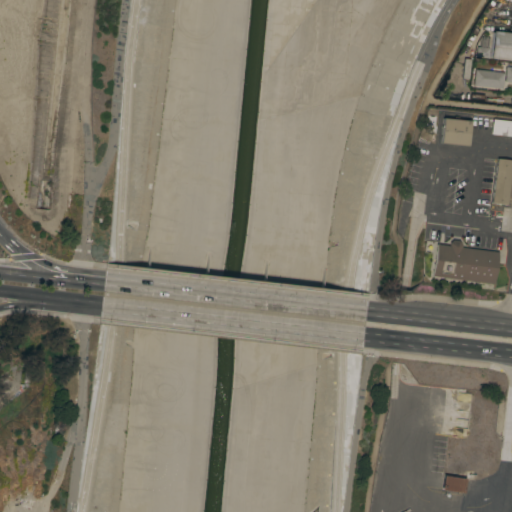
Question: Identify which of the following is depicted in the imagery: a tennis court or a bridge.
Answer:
bridge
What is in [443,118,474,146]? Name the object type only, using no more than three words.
building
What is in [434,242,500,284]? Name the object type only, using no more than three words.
building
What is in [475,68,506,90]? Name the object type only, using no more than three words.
house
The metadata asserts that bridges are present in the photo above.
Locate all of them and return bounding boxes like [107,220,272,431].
[100,257,370,355]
